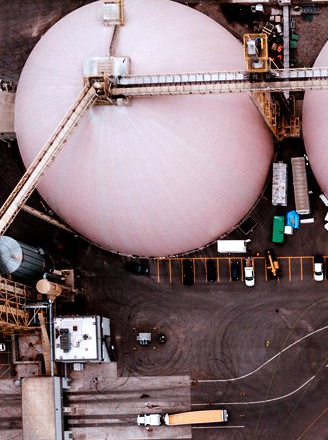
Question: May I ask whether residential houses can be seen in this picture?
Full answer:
Yes, the frame does contain a residential house.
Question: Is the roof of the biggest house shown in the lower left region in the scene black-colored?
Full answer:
No, the roof of the biggest house shown in the lower left region is actually white.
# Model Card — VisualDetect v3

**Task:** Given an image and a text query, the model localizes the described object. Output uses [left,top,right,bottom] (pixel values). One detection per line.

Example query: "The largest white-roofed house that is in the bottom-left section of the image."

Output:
[54,317,114,362]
